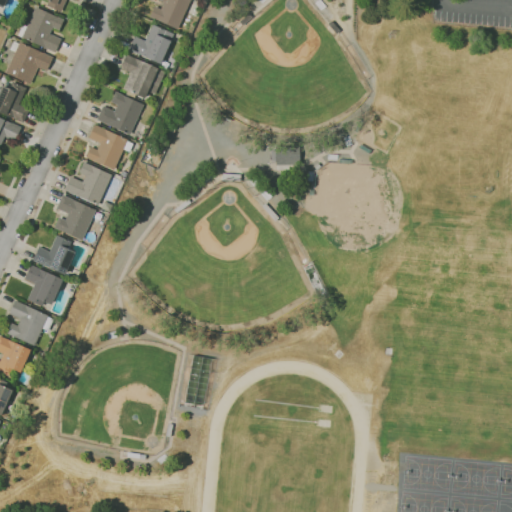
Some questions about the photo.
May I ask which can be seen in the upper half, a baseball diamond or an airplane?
baseball diamond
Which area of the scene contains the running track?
bottom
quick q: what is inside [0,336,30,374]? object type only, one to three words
house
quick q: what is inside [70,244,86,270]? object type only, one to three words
swimming pool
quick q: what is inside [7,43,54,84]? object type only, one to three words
house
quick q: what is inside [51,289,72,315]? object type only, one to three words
swimming pool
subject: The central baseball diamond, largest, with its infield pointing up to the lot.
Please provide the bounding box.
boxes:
[132,181,315,333]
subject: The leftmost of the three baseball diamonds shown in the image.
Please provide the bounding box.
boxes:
[54,334,182,456]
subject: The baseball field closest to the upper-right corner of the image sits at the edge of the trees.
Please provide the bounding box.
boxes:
[196,0,375,134]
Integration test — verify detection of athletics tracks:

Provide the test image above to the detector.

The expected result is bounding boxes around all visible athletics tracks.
[202,358,368,512]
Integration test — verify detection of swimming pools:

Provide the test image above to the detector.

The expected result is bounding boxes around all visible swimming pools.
[18,371,31,386]
[85,232,97,244]
[70,244,86,270]
[51,289,72,315]
[2,0,20,18]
